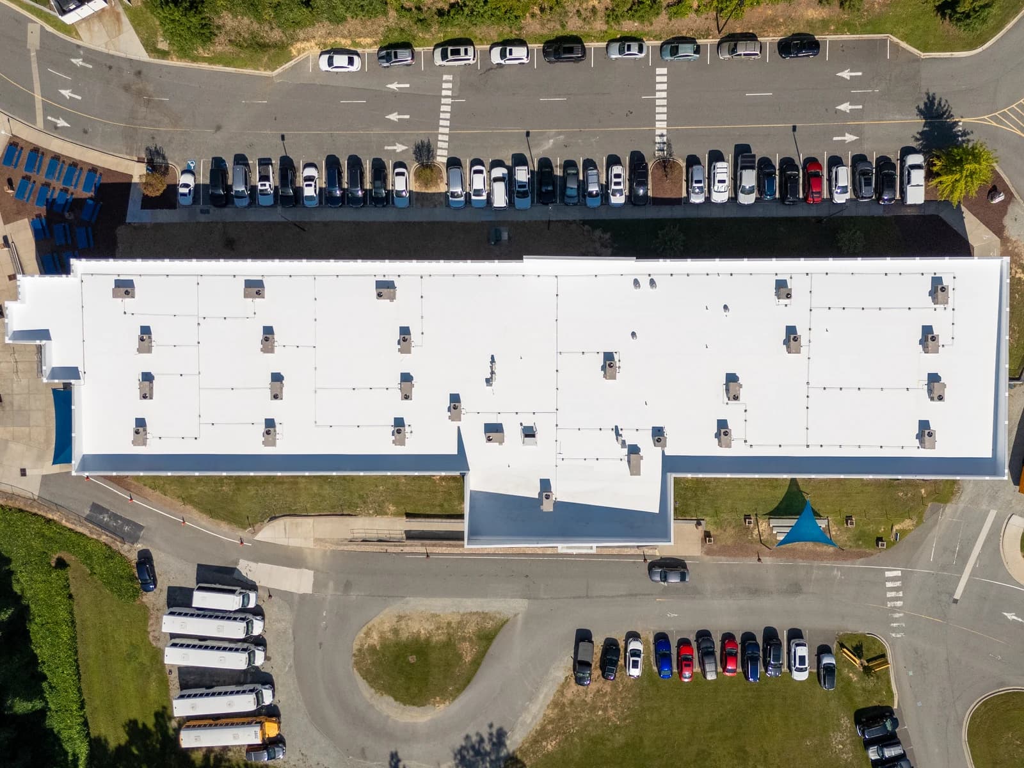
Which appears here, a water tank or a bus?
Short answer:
bus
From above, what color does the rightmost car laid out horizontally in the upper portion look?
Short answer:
black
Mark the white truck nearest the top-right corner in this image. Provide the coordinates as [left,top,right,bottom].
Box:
[904,153,926,205]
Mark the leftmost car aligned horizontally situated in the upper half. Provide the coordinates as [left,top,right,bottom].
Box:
[320,52,361,72]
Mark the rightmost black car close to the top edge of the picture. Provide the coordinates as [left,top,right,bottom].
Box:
[777,38,820,59]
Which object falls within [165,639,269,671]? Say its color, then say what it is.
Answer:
white bus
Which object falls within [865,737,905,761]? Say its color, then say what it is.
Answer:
gray car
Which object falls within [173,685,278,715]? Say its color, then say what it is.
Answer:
white bus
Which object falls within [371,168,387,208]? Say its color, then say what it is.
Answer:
black car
